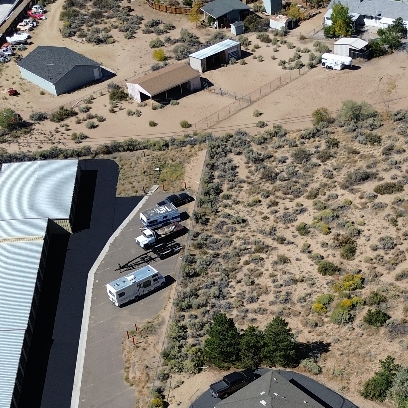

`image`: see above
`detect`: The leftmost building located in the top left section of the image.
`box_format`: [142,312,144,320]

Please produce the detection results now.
[17,51,89,98]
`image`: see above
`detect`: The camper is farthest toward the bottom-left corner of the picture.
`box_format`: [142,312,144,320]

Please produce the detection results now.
[105,268,170,309]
